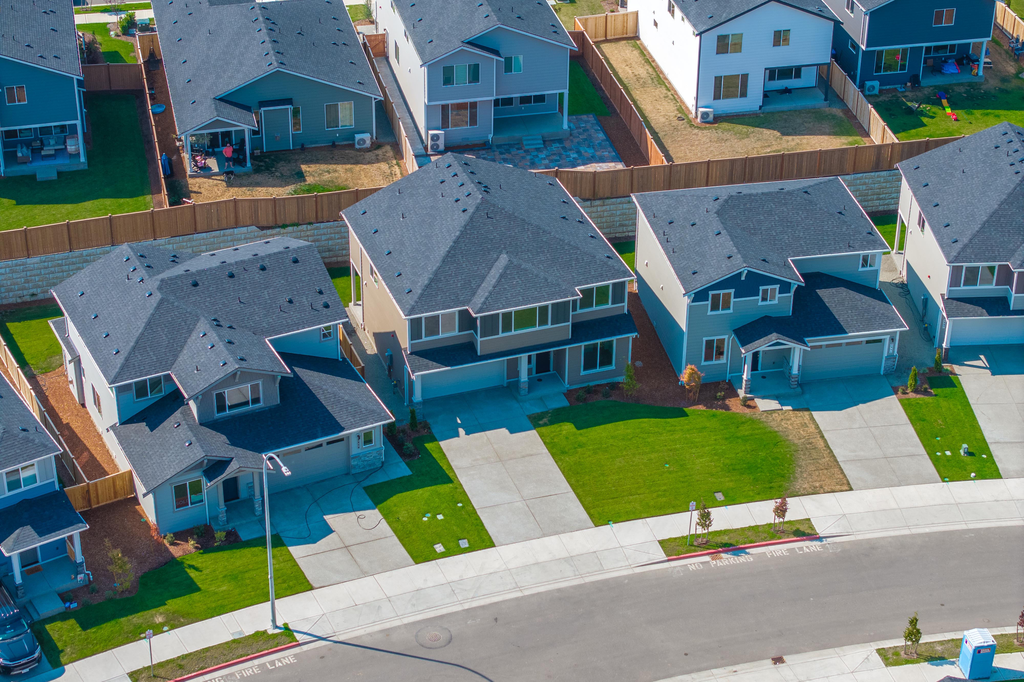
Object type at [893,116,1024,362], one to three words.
house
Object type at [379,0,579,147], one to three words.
house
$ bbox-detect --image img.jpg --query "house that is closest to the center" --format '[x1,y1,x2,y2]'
[339,152,641,420]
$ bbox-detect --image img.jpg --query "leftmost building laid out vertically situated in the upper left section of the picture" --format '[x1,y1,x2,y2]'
[0,0,87,179]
